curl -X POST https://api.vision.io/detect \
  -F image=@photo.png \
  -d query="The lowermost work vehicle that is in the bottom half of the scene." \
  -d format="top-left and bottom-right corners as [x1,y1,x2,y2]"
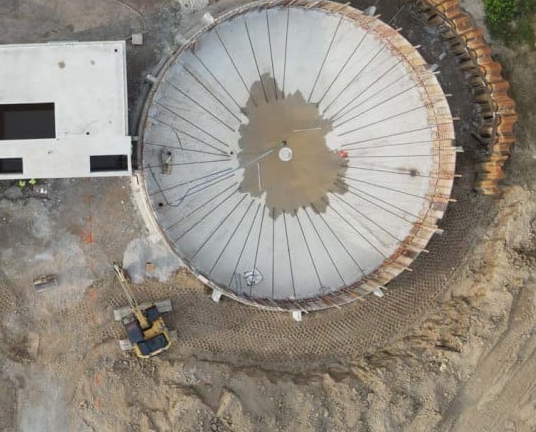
[113,261,177,358]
